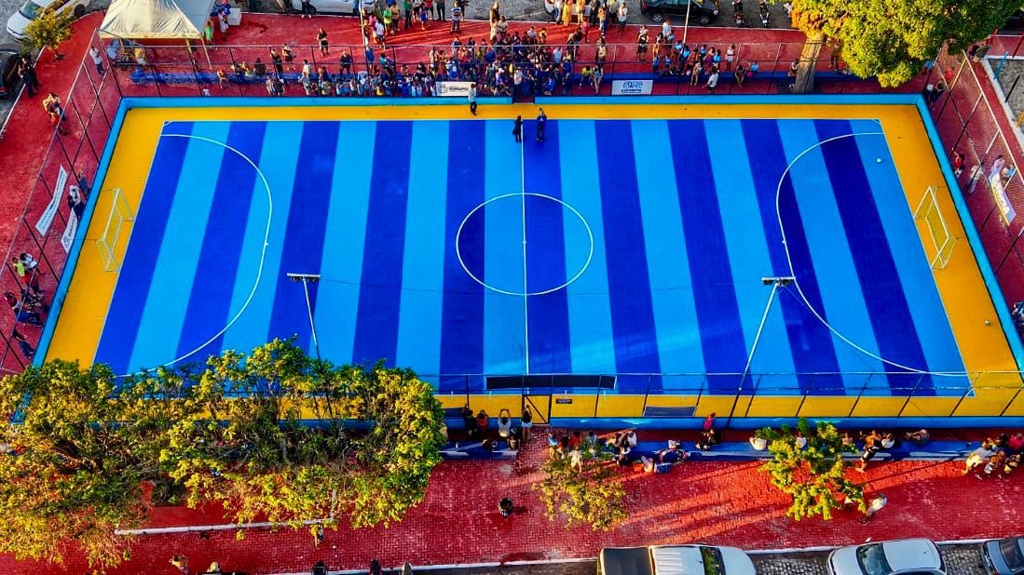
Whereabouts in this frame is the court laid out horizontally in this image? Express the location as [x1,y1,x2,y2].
[26,104,1024,425]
